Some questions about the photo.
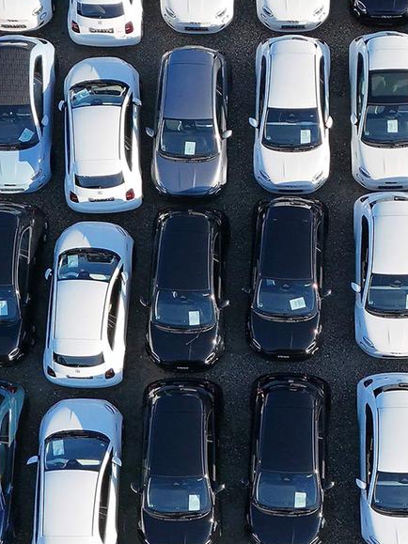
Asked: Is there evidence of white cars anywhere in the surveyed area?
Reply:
Yes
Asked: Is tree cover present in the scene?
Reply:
No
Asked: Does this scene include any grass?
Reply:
No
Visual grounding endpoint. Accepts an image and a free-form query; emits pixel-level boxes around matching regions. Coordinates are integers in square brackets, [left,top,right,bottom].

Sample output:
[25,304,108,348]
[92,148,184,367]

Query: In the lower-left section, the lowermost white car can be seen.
[24,399,122,544]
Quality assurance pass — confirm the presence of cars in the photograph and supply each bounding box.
[53,58,143,215]
[352,189,408,358]
[247,34,337,194]
[0,199,47,368]
[347,31,408,189]
[238,372,336,544]
[355,372,408,544]
[349,0,408,27]
[0,0,53,34]
[39,221,133,389]
[139,204,233,375]
[161,0,234,35]
[0,380,28,544]
[24,399,122,544]
[0,34,56,193]
[241,193,336,362]
[67,0,143,47]
[142,40,233,201]
[257,0,329,34]
[128,377,227,544]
